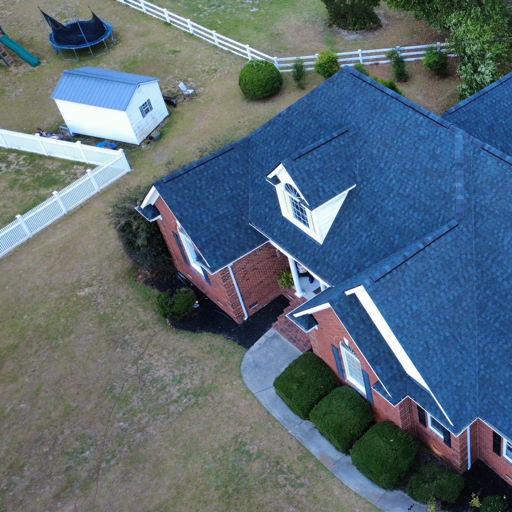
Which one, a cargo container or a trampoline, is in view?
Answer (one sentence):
Looking from above, you can make out a trampoline.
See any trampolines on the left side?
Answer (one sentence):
Yes, a trampoline can be seen on the left side.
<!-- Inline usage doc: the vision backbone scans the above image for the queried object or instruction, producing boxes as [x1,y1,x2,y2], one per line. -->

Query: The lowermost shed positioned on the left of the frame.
[54,70,169,145]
